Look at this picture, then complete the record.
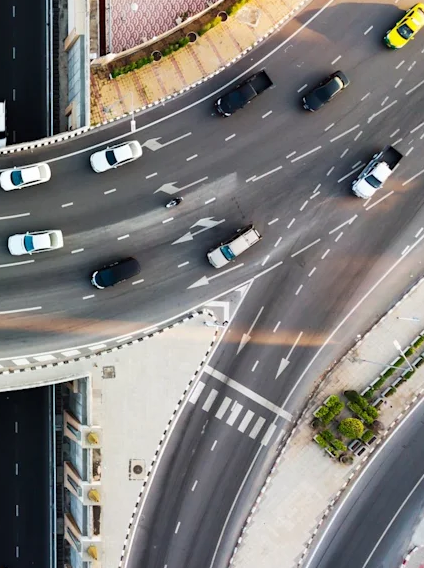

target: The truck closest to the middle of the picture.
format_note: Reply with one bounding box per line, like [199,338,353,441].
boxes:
[204,223,264,265]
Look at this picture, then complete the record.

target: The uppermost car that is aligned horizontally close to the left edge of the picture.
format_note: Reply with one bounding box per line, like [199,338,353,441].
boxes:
[0,163,50,191]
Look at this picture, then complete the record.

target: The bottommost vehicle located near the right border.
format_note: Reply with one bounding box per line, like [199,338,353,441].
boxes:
[348,144,407,195]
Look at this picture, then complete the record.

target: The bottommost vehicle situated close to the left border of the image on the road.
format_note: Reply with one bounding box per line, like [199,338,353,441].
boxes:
[8,229,63,256]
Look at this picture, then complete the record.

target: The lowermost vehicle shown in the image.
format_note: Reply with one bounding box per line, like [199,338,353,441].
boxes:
[89,256,142,288]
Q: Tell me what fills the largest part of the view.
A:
paved ground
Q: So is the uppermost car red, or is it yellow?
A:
yellow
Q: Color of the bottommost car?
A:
black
